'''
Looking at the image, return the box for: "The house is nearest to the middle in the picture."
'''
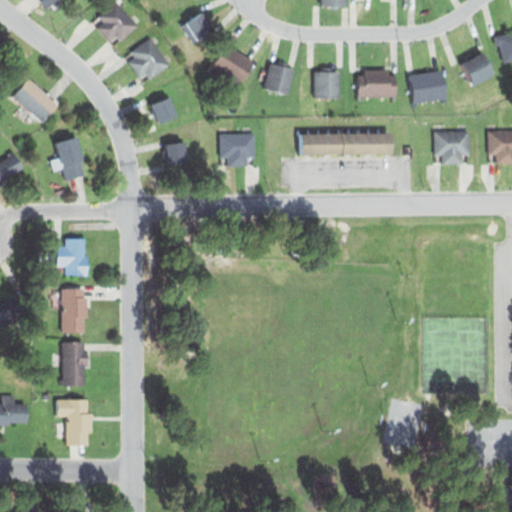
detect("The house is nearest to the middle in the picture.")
[217,134,255,167]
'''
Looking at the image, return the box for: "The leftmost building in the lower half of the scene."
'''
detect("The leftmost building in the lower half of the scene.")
[0,395,31,424]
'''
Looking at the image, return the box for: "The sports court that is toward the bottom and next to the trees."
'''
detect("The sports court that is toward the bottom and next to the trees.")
[422,318,487,394]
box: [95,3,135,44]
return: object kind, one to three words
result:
house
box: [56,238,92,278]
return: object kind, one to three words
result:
house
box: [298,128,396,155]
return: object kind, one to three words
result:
building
